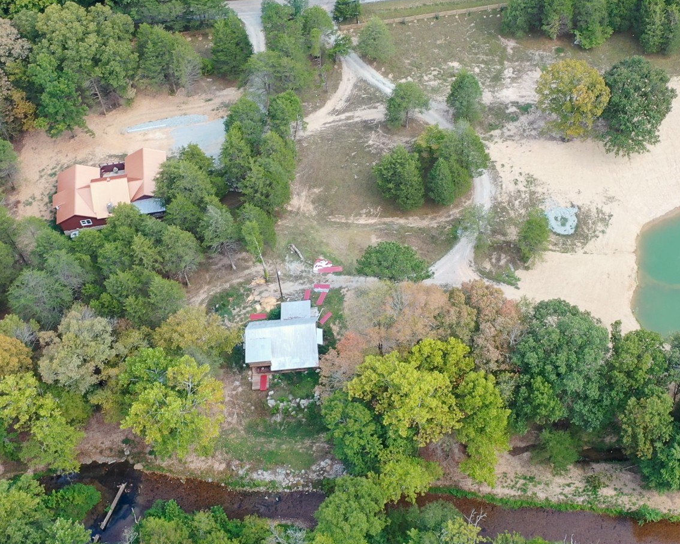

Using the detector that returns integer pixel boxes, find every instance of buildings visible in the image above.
[52,146,169,234]
[242,300,327,393]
